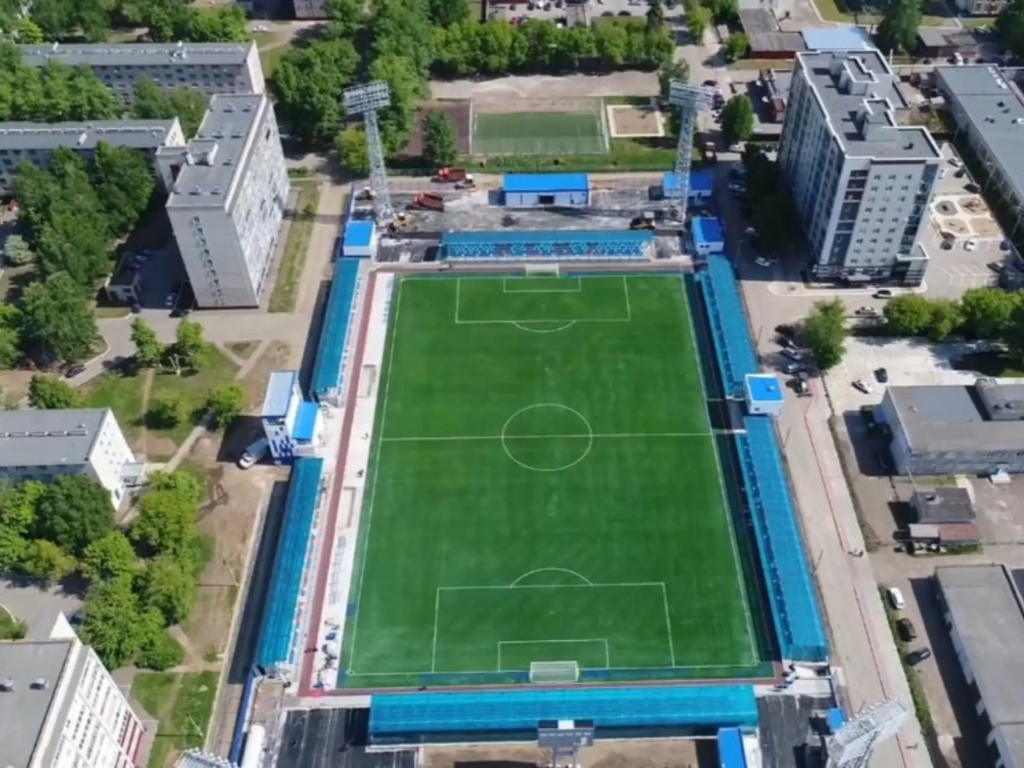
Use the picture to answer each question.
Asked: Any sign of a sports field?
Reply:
Yes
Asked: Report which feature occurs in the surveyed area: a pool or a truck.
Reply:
truck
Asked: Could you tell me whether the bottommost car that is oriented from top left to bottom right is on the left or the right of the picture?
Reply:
right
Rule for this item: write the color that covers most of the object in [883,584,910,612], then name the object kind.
white car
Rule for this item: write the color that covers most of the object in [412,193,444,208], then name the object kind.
red vehicle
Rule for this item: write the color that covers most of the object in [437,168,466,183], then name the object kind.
red vehicle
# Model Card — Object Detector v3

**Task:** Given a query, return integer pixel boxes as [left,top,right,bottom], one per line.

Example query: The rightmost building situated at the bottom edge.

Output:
[931,565,1024,768]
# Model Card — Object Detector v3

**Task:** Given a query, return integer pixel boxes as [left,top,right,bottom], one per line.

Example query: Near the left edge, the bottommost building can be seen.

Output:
[0,637,136,768]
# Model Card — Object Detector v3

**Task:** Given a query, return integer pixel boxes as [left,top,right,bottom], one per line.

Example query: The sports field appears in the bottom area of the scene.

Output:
[335,264,781,688]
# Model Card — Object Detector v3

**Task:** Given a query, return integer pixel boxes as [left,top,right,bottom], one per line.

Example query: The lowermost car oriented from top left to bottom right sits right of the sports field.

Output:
[895,616,920,643]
